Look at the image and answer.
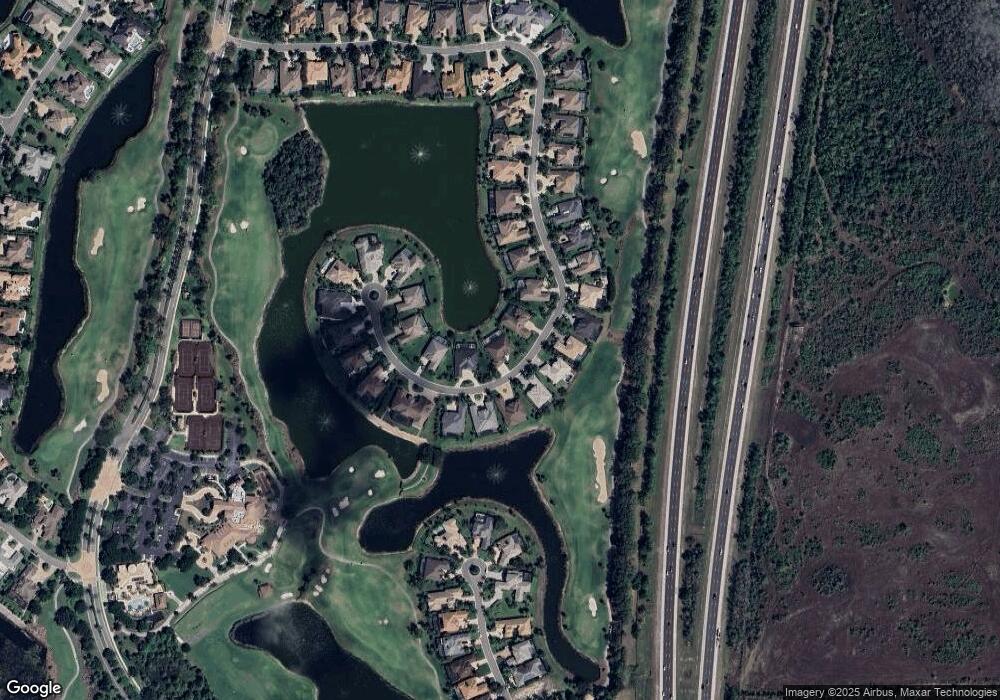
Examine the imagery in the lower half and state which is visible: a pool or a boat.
pool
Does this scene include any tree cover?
Yes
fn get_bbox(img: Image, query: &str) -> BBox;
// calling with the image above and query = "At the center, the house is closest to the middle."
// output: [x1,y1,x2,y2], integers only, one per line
[482,328,512,361]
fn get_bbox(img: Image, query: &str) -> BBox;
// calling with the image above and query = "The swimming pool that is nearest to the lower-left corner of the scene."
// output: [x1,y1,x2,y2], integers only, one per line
[114,582,163,618]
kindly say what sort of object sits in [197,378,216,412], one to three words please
tennis court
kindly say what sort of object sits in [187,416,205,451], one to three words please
tennis court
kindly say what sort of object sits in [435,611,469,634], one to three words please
house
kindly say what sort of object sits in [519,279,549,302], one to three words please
house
